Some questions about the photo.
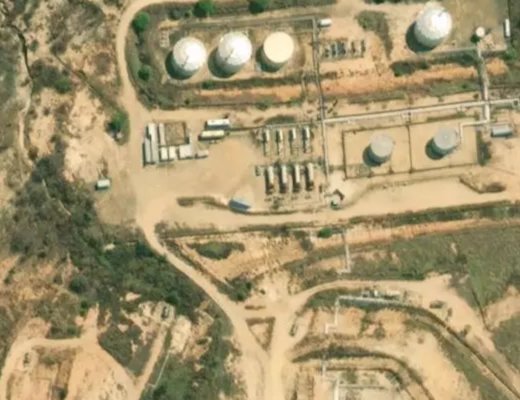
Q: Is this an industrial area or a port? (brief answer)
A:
industrial area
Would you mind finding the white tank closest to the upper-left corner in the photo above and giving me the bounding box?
[169,38,208,77]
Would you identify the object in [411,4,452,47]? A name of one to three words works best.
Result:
storage tank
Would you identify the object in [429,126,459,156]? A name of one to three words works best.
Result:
storage tank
